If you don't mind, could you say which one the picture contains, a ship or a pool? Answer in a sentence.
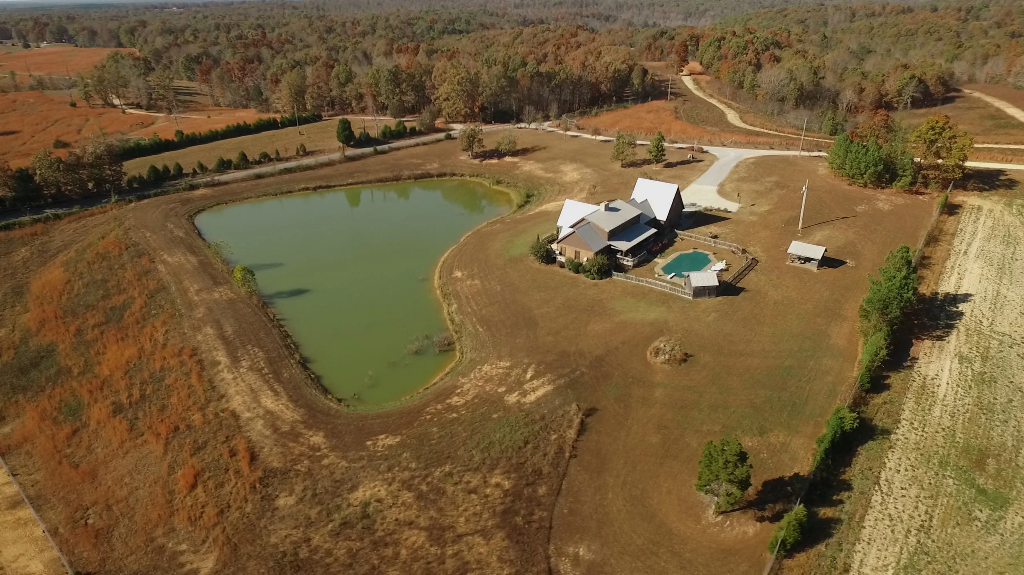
The image shows a pool.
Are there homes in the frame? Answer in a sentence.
Yes, a home is visible in the scene.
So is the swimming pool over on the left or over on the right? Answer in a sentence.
The swimming pool appears in the right half of the scene.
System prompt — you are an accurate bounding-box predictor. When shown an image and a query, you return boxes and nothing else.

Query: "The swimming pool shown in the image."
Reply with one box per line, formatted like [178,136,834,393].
[660,250,713,278]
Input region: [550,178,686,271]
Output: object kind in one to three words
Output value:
house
